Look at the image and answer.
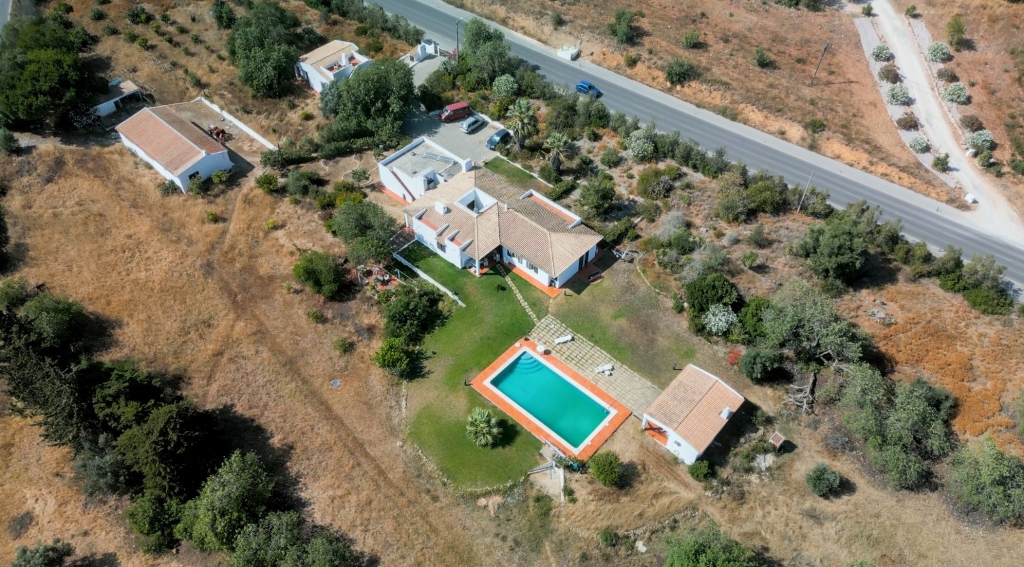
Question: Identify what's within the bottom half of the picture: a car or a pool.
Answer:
pool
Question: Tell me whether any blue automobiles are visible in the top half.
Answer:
Yes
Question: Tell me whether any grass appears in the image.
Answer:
Yes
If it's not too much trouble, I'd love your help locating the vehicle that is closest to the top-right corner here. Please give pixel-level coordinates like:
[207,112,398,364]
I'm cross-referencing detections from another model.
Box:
[576,77,601,94]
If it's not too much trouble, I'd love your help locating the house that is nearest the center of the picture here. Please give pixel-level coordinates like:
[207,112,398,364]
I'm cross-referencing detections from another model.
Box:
[375,137,606,299]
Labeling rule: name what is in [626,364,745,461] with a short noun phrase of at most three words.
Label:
building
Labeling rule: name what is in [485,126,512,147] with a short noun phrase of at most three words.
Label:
car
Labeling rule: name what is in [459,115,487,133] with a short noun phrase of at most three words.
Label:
car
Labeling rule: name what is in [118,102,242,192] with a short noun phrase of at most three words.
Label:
barn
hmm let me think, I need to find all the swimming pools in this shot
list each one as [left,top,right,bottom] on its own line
[469,337,633,470]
